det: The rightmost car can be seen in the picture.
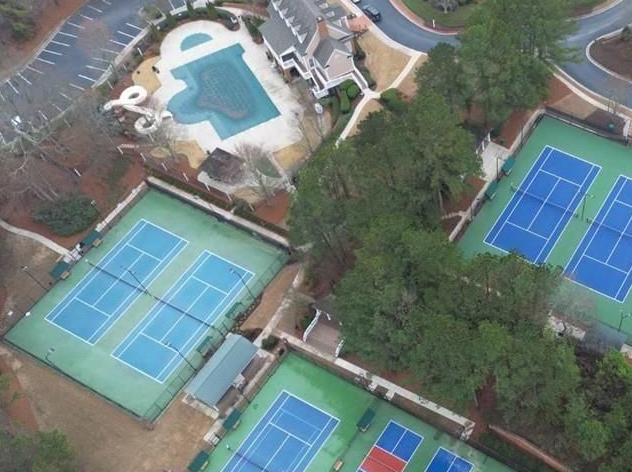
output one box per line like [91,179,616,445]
[361,3,381,19]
